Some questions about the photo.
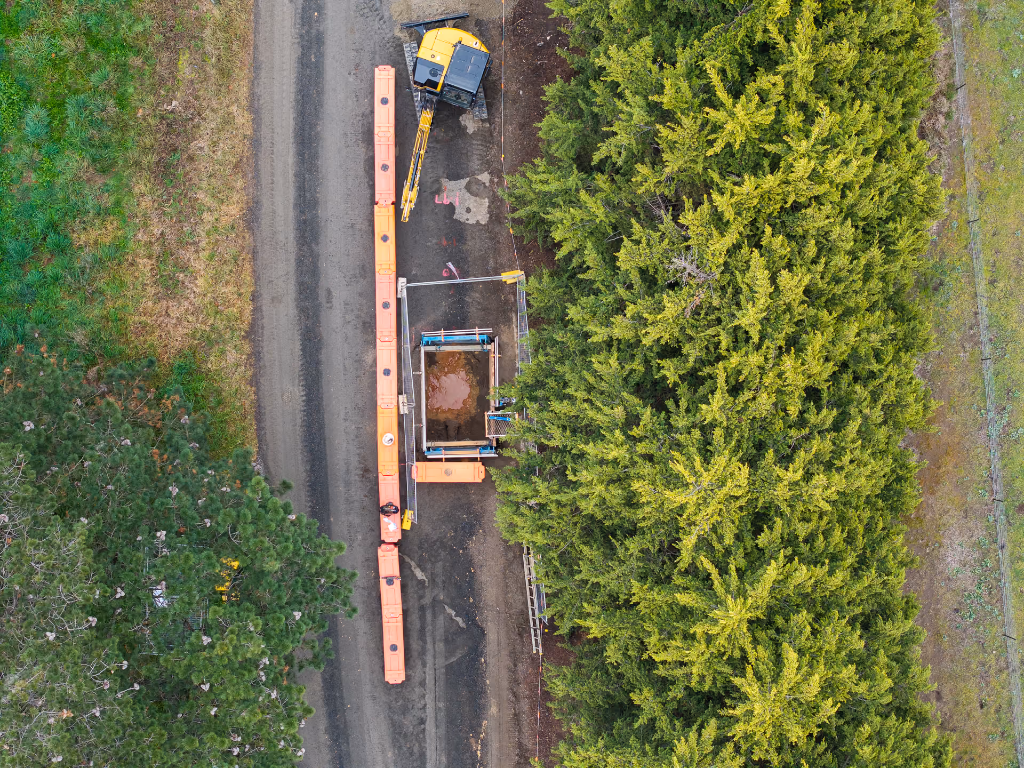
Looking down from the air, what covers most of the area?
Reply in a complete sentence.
The scene is dominated by trees.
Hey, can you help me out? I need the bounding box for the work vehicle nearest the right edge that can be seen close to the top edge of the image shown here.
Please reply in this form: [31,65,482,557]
[399,10,494,222]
